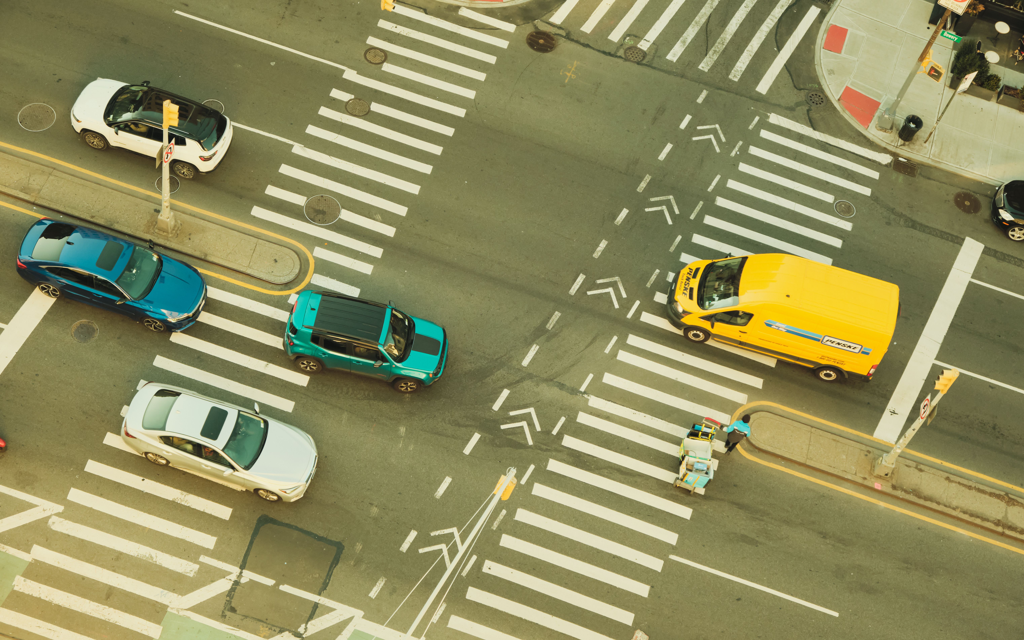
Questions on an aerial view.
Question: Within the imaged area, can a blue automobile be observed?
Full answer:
Yes, there's a blue automobile here.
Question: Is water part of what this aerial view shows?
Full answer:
No, there's no water in this view.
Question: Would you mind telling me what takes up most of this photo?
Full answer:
For the most part, this view shows paved ground.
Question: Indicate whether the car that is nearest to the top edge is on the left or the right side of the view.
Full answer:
The car that is nearest to the top edge sits on the left side.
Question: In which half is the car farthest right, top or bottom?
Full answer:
Seen from above, the car farthest right lies in the top half of the view.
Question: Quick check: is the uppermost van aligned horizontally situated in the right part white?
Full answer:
No, the color of the uppermost van aligned horizontally situated in the right part is yellow.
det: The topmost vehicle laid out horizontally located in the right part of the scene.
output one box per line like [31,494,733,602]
[670,250,899,383]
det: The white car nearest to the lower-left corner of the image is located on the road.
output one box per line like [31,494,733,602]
[123,382,324,503]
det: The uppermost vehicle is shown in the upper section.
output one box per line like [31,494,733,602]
[72,77,235,180]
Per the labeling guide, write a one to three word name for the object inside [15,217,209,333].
car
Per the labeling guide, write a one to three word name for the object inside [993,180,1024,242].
car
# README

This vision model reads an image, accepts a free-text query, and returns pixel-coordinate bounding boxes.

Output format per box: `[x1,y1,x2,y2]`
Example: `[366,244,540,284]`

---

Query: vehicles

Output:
[670,250,899,383]
[281,287,448,394]
[993,180,1024,242]
[123,382,324,503]
[72,77,235,180]
[15,217,209,333]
